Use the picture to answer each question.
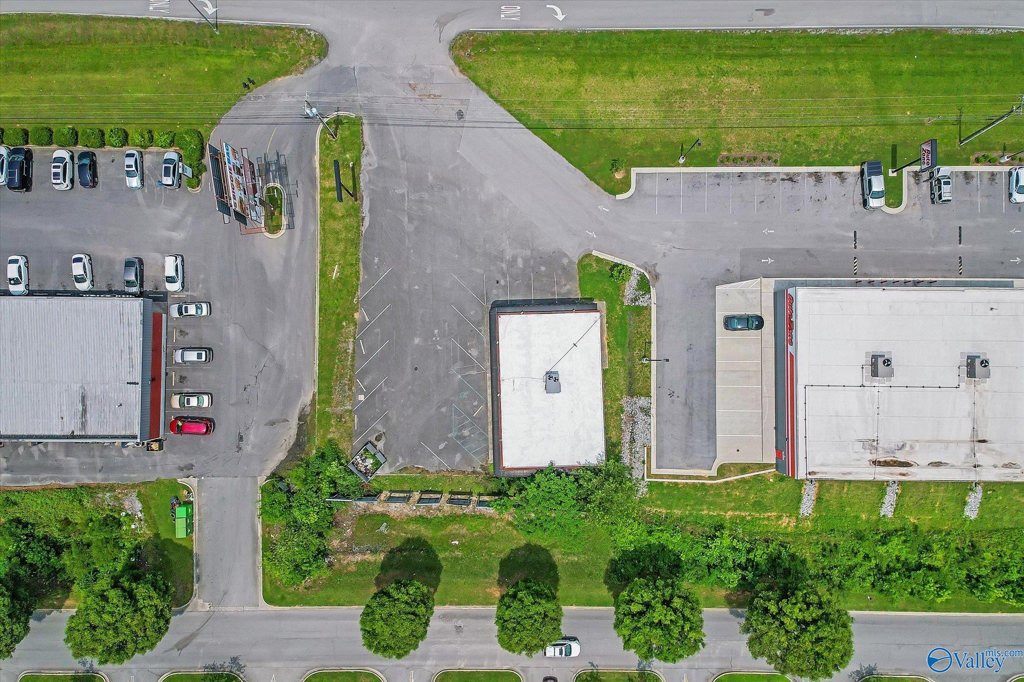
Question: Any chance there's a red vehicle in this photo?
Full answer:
Yes, you can see a red vehicle in this photo.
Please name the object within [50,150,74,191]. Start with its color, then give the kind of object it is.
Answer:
white car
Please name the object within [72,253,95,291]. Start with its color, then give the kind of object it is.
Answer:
white car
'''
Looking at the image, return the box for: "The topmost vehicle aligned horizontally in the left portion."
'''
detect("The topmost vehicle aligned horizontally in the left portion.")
[170,300,211,318]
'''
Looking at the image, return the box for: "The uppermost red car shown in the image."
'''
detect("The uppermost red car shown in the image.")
[170,416,214,436]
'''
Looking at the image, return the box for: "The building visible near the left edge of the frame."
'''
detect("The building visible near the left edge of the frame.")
[0,295,167,442]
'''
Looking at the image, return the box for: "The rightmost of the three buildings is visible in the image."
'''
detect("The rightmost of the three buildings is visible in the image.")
[775,286,1024,484]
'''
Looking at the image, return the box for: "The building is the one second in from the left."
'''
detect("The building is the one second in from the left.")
[490,303,606,476]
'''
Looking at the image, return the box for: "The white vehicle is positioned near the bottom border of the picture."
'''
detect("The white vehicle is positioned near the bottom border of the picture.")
[545,637,581,659]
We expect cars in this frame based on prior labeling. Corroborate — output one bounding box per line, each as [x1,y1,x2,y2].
[0,146,10,185]
[170,300,211,318]
[72,253,95,291]
[163,254,185,292]
[7,255,30,295]
[5,147,32,192]
[171,391,212,409]
[174,346,214,364]
[76,151,98,189]
[122,257,144,295]
[50,150,74,191]
[723,313,764,332]
[123,150,145,190]
[160,151,182,189]
[1008,166,1024,204]
[926,168,954,204]
[170,416,214,436]
[545,637,581,659]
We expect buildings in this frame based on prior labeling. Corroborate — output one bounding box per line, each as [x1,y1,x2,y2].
[0,295,167,442]
[775,286,1024,484]
[490,303,606,476]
